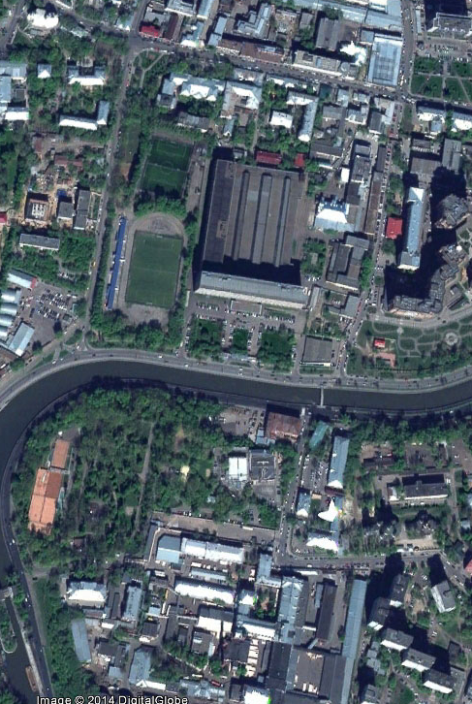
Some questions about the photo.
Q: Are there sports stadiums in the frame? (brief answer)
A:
Yes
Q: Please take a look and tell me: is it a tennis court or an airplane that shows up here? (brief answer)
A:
tennis court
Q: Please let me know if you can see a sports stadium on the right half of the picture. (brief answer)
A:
No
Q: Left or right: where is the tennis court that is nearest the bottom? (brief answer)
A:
left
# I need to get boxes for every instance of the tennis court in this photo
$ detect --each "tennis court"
[28,466,61,534]
[50,439,70,470]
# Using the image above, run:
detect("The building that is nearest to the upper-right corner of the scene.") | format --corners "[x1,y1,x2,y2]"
[432,14,472,40]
